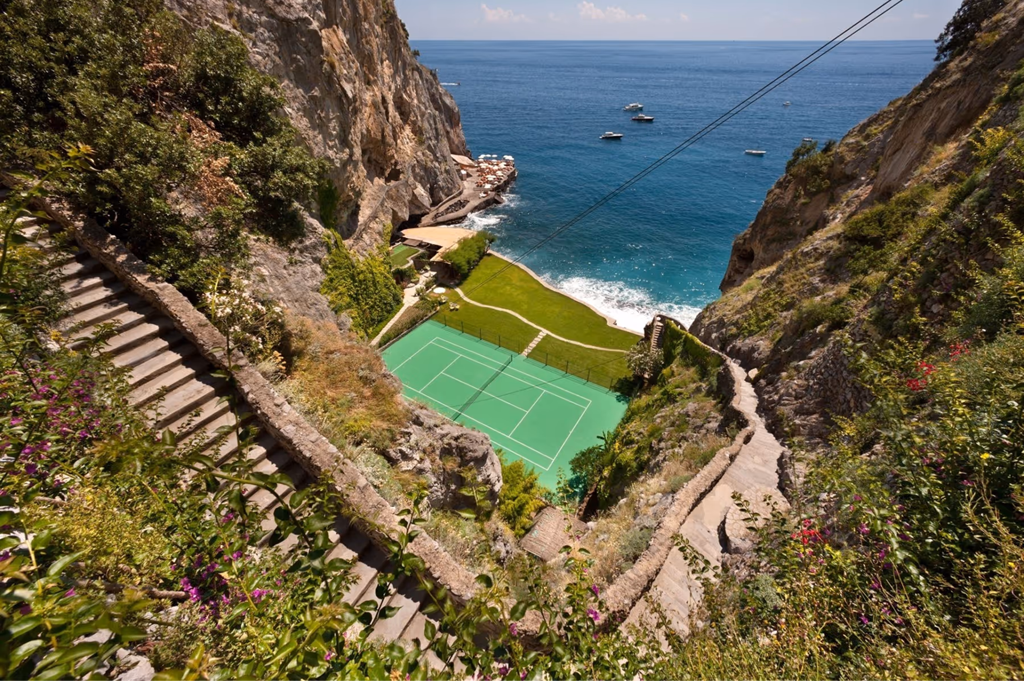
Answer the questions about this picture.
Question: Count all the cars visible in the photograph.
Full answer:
I count no cars.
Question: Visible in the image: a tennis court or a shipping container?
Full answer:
The one in the frame is a tennis court.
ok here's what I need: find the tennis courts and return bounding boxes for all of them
[378,320,630,515]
